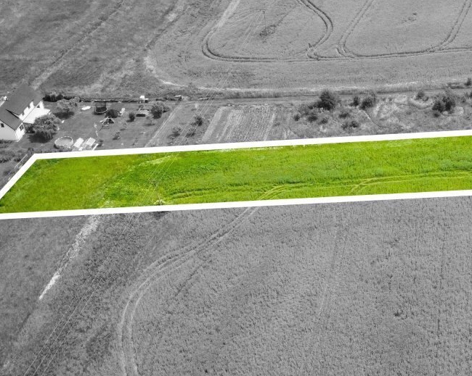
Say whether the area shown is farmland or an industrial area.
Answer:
farmland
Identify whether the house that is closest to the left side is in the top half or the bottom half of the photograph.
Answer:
top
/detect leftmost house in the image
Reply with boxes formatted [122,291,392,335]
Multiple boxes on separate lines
[0,84,51,142]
